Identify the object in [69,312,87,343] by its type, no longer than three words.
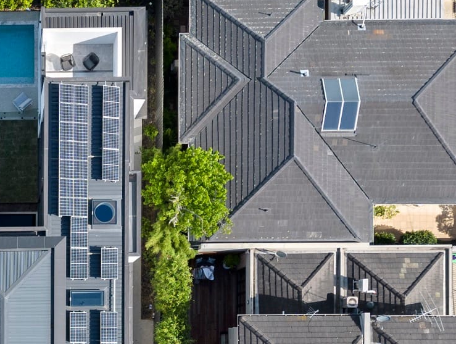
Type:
solar panel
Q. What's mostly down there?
buildings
